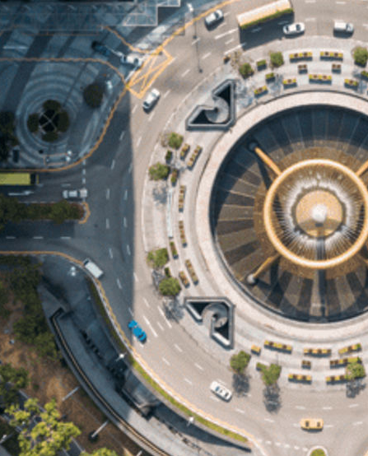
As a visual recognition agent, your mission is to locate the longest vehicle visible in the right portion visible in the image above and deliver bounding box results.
[232,1,292,32]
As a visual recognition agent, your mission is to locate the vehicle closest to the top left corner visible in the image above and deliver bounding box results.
[91,41,113,57]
